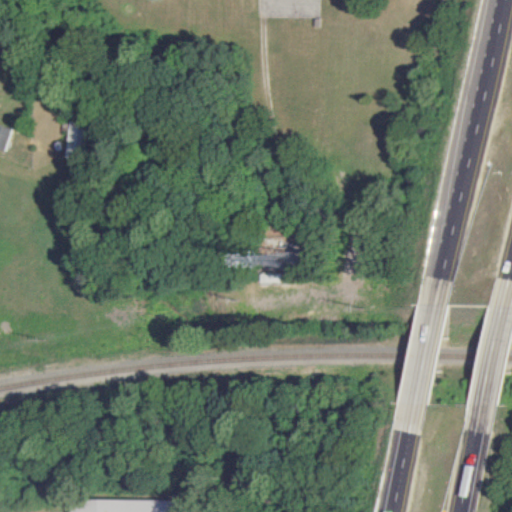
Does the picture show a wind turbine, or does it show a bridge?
bridge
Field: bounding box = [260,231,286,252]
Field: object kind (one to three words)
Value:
shed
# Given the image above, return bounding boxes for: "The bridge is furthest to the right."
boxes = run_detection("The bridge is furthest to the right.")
[464,278,512,435]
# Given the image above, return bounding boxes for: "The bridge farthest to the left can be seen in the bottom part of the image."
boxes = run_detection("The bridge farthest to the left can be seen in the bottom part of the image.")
[394,277,453,436]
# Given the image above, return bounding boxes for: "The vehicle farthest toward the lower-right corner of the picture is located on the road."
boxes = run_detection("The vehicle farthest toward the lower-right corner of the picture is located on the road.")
[459,452,474,498]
